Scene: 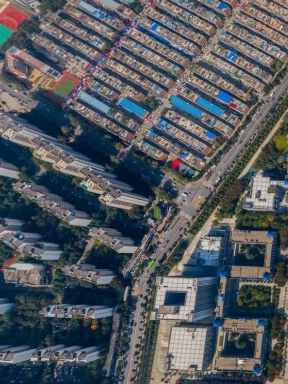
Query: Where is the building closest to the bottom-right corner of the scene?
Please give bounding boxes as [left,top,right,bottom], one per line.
[213,317,268,375]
